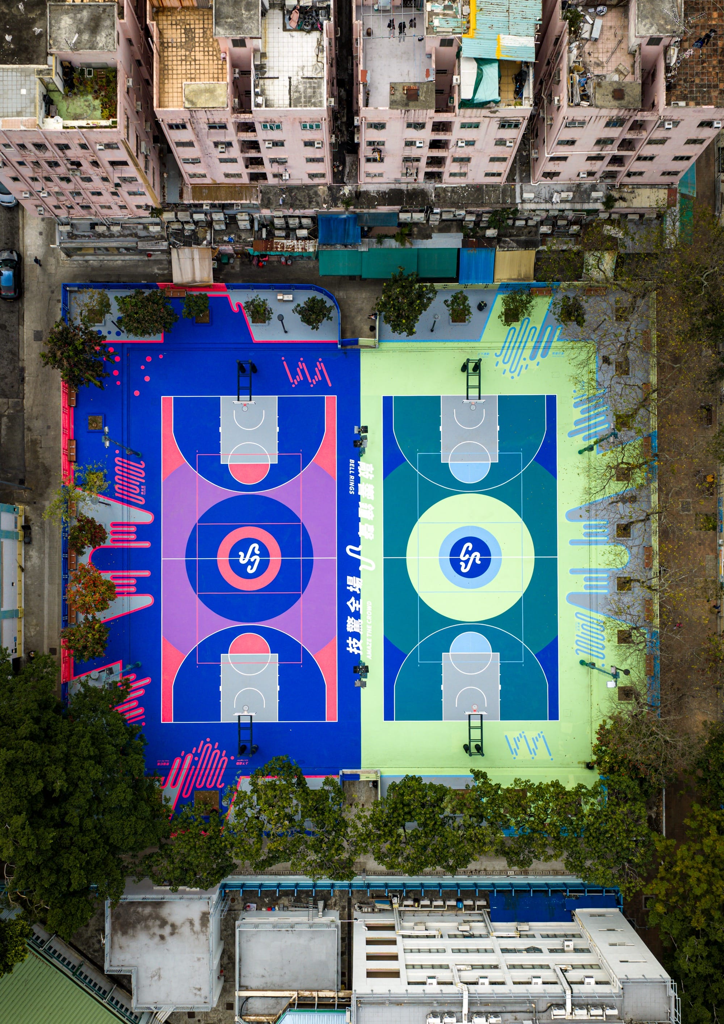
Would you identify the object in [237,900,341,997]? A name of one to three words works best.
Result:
building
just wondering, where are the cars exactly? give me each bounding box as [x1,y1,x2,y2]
[0,174,16,203]
[0,246,18,300]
